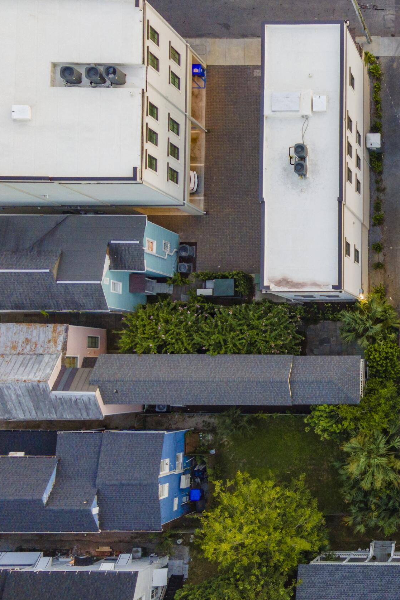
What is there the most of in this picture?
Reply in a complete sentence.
The bulk of the photo consists of buildings.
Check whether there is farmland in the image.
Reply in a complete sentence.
No, the scene doesn't show any farmland.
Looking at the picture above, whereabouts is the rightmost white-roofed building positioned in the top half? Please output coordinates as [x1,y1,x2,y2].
[255,12,370,297]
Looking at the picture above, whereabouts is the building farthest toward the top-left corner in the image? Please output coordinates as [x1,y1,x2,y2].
[0,0,207,213]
